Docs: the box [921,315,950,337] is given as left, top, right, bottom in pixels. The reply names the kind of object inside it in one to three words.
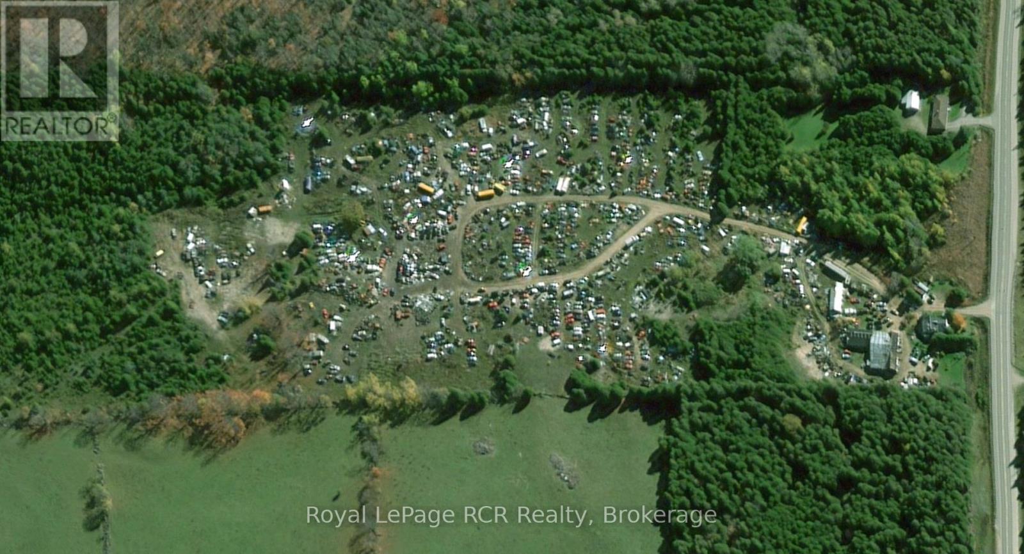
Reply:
house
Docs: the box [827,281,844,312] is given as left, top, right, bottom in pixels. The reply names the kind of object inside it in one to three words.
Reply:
shed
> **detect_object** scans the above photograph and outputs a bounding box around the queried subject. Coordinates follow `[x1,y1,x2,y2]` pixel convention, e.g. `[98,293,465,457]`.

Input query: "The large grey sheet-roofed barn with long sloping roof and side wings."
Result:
[847,335,899,374]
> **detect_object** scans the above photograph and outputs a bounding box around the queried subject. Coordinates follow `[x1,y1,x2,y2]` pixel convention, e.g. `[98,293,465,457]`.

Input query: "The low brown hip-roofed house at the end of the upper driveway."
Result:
[931,97,949,131]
